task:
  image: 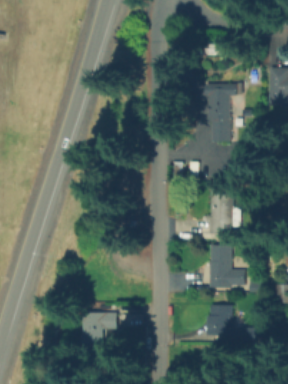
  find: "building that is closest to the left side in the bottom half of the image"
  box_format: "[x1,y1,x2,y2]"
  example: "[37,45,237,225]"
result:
[83,312,118,340]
